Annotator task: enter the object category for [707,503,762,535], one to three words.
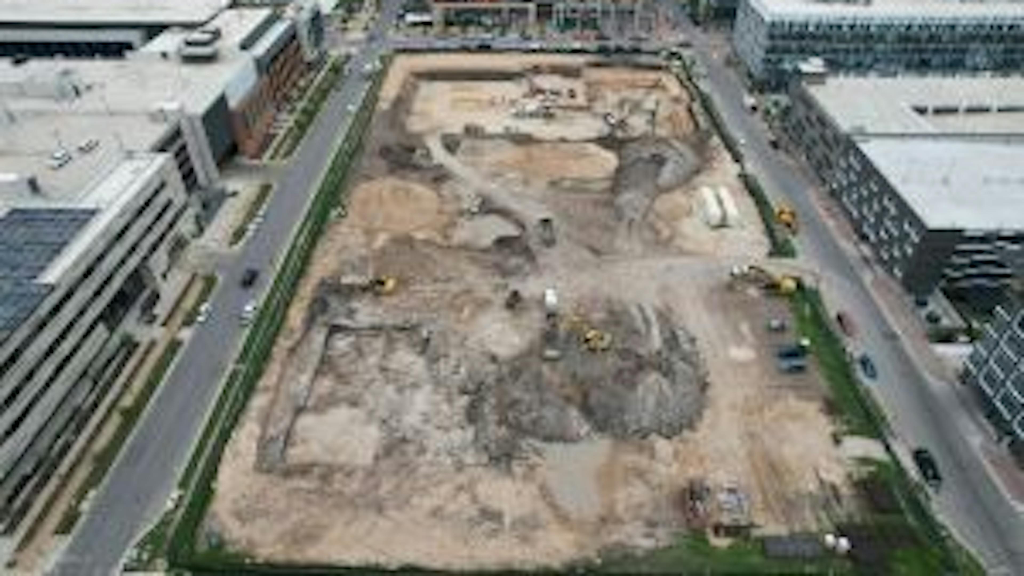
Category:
shed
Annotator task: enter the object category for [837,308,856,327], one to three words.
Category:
car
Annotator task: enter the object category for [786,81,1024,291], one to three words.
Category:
building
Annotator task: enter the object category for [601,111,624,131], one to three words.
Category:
vehicle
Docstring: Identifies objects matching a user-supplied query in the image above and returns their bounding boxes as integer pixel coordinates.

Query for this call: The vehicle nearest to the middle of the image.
[501,289,523,313]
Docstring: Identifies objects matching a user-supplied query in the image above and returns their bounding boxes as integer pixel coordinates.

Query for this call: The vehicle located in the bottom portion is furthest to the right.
[917,447,947,481]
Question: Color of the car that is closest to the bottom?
black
